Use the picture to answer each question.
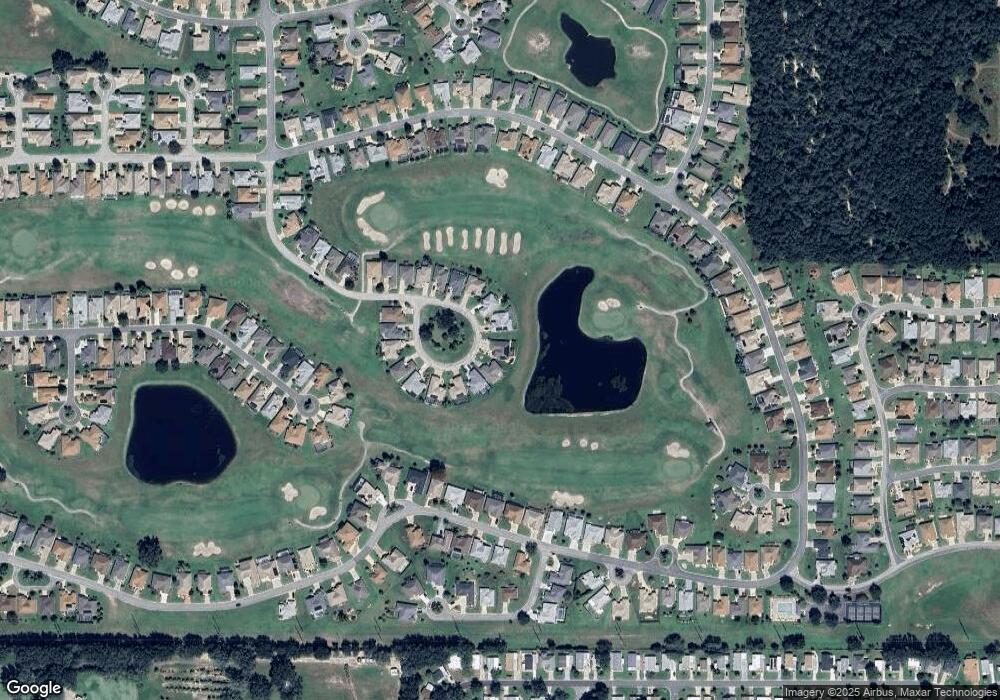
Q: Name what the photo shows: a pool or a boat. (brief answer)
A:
pool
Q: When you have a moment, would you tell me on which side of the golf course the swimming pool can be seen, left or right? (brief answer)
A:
right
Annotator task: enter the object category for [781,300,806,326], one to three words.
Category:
house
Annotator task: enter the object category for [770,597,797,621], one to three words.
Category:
swimming pool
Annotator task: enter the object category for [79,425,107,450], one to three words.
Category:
house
